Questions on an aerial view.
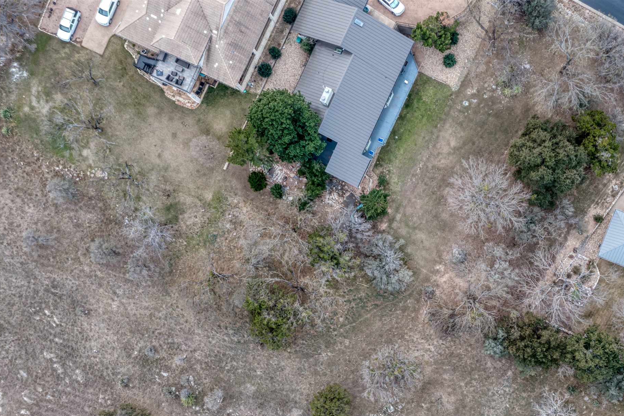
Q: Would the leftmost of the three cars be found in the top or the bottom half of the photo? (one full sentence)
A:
Seen from above, the leftmost of the three cars lies in the top half of the view.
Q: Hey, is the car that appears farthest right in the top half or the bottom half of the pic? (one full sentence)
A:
The top half of the photo is where the car that appears farthest right is.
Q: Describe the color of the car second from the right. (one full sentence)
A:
In this view, the car second from the right is white.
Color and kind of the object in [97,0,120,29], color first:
white car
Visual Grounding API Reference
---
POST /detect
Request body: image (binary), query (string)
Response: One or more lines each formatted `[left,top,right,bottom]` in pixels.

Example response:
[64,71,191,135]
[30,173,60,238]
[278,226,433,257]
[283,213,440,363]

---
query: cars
[375,0,405,20]
[59,6,83,43]
[97,0,120,29]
